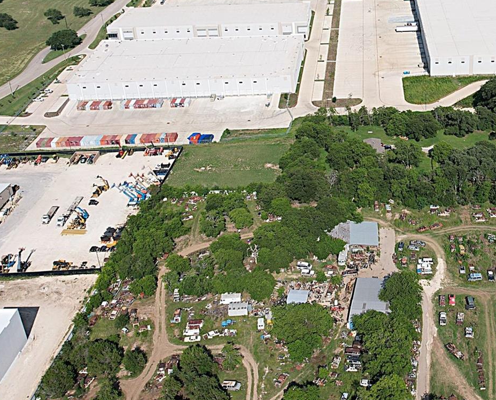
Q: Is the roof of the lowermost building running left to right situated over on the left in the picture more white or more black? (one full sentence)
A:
The roof of the lowermost building running left to right situated over on the left is white.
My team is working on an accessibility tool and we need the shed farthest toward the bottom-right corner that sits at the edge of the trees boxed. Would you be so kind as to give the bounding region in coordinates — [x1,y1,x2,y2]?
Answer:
[348,276,390,334]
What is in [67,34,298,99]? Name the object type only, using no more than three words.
building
